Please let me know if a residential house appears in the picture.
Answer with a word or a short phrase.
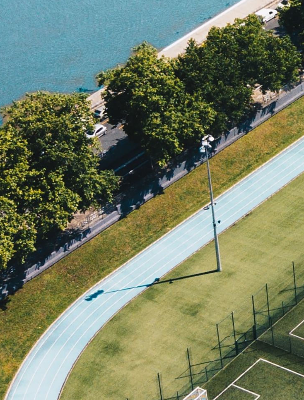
No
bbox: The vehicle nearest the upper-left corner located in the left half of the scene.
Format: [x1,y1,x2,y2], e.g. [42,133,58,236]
[85,102,111,121]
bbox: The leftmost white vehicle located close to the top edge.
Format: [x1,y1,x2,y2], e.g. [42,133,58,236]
[250,6,275,23]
